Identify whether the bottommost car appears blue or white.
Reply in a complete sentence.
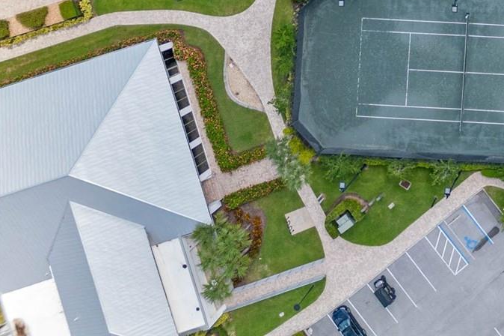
The bottommost car looks blue in the image.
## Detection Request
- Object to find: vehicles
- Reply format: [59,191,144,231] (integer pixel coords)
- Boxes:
[375,280,396,309]
[333,307,368,336]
